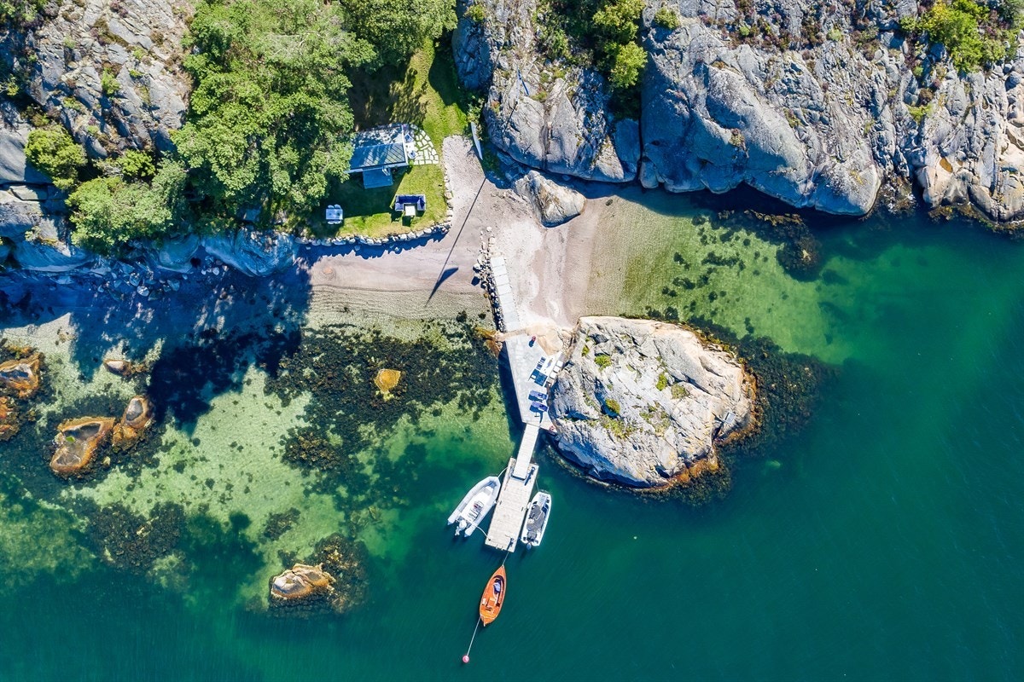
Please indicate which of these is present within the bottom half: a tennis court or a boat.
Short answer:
boat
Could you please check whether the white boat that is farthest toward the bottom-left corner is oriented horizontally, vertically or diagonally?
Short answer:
diagonally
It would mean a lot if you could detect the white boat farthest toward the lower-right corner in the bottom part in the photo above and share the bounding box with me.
[518,491,551,552]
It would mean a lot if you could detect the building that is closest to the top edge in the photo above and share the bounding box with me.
[344,126,409,176]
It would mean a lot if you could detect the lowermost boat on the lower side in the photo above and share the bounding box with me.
[480,564,506,631]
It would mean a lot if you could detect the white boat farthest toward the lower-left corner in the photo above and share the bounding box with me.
[445,478,498,541]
